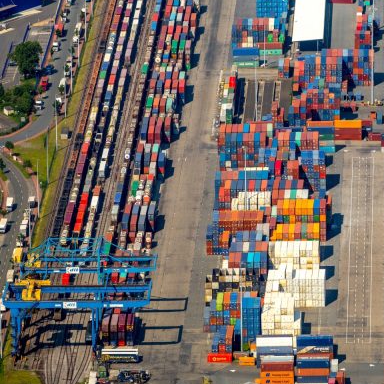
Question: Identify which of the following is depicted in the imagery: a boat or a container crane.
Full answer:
The image shows a container crane.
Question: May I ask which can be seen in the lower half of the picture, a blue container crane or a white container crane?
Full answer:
The one visible in the lower half of the picture is a blue container crane.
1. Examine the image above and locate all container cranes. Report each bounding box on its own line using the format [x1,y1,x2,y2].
[2,274,155,366]
[20,234,161,331]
